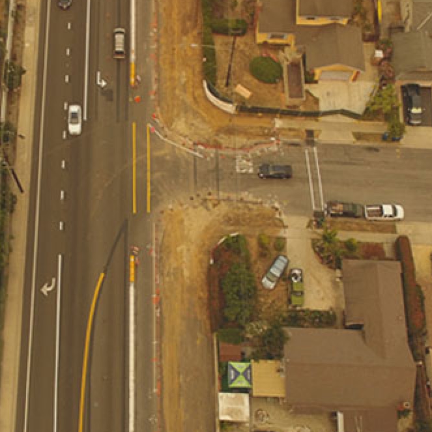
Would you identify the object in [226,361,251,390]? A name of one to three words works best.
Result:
tent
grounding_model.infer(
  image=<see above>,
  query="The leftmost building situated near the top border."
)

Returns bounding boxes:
[258,0,370,80]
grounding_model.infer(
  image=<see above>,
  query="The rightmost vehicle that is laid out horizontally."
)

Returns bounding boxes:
[365,204,404,221]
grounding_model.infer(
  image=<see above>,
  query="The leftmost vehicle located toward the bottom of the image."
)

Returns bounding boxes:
[263,255,289,289]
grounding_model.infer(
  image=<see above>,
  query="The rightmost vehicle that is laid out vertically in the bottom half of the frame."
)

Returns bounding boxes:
[288,267,306,308]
